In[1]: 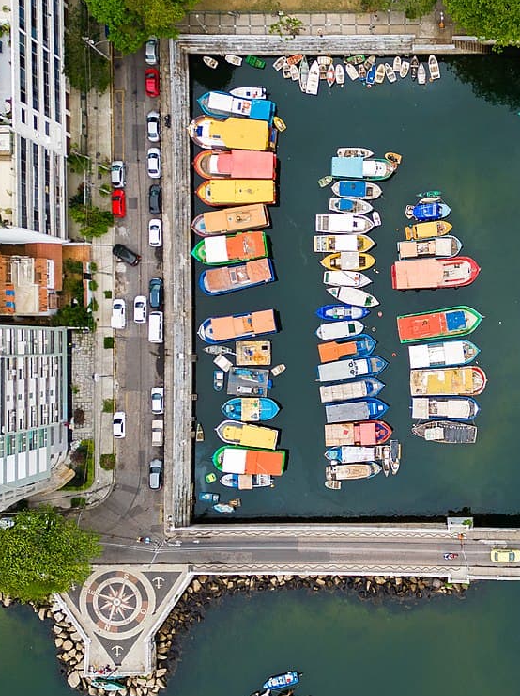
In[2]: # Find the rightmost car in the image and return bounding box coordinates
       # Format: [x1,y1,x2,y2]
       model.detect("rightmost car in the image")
[491,549,520,564]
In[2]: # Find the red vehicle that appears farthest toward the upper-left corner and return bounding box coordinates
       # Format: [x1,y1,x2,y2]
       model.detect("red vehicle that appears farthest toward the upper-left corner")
[143,69,160,98]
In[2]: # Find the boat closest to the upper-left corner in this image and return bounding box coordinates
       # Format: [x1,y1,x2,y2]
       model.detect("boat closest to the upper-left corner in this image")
[203,58,220,71]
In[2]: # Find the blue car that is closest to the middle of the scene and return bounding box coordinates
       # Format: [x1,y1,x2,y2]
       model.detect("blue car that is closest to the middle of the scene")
[149,277,164,309]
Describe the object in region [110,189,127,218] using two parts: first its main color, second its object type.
red car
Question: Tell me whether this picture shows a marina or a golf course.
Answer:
marina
